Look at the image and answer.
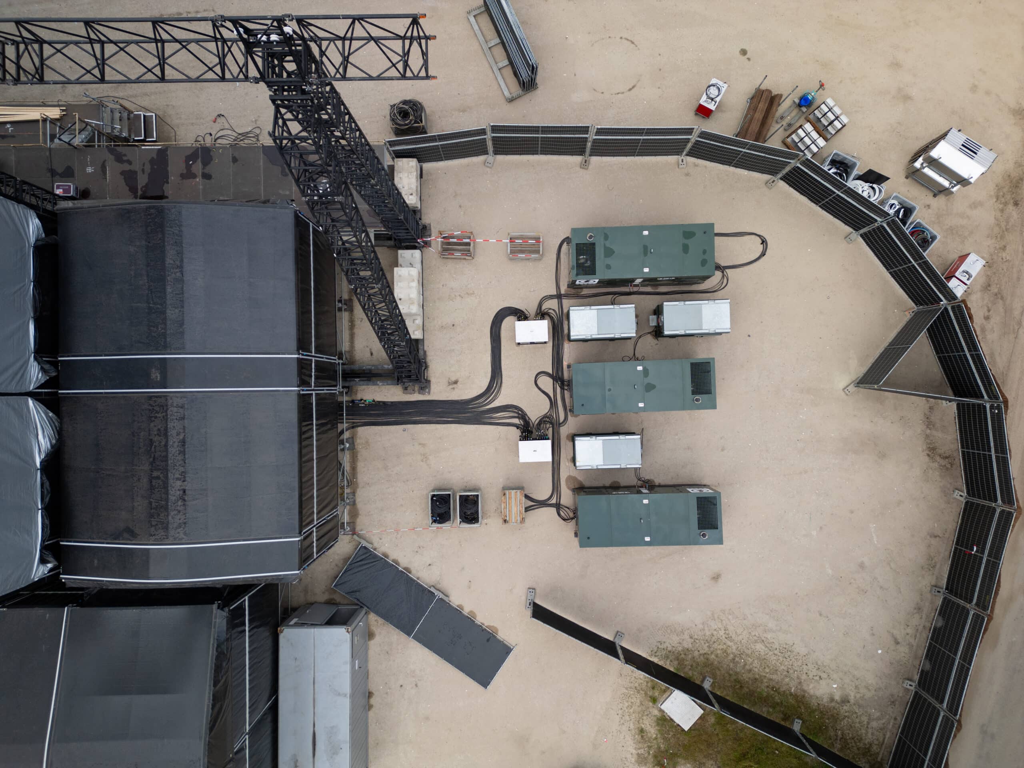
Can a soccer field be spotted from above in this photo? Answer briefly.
No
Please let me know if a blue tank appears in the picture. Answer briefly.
No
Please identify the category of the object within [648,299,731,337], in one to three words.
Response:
storage tank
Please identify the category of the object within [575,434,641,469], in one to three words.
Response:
storage tank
